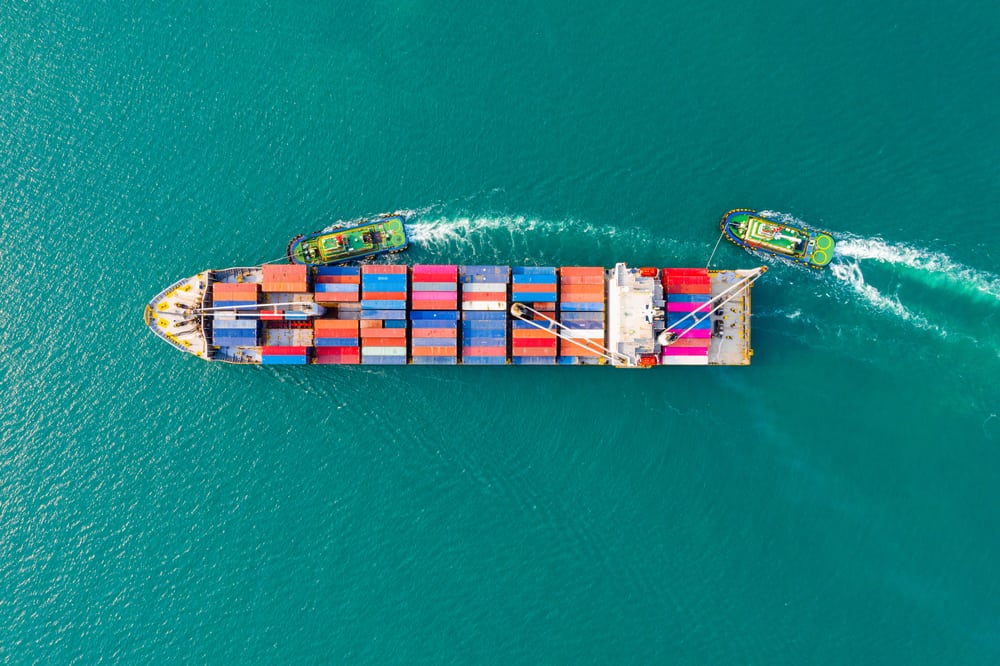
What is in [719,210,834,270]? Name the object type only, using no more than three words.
boat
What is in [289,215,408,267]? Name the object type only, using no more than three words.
boat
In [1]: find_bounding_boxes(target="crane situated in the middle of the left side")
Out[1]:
[191,303,336,319]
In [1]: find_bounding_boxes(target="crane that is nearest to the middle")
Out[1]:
[510,304,629,362]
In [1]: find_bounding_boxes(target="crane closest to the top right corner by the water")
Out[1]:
[654,266,768,346]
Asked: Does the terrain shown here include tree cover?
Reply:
No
